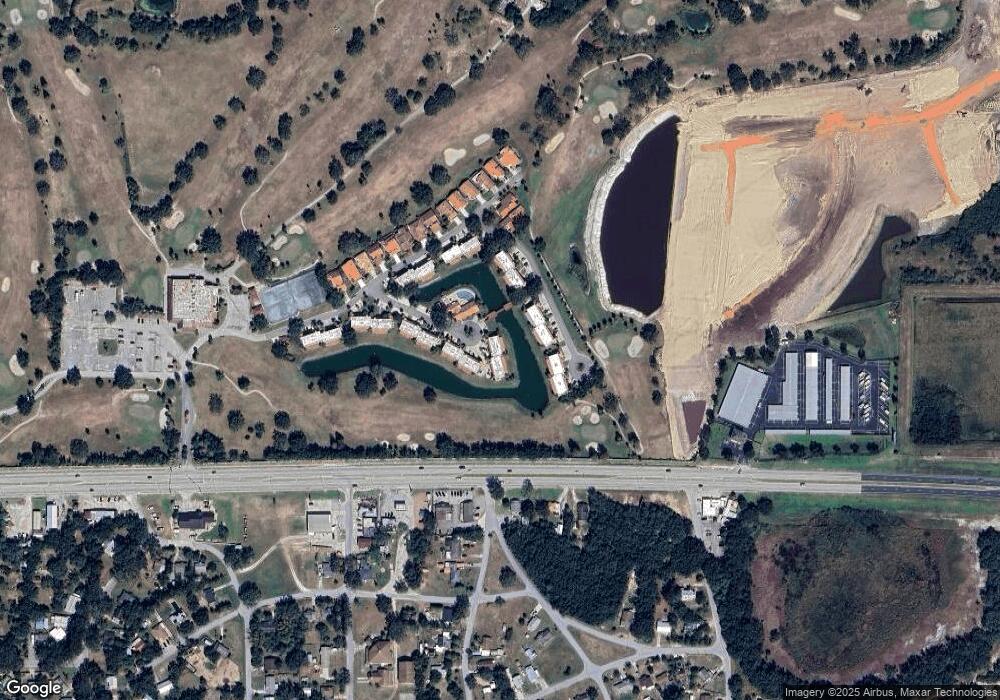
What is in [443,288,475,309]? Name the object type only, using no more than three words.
swimming pool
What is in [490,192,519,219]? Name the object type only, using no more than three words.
house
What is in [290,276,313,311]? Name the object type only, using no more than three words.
tennis court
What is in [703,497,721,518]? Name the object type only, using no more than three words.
building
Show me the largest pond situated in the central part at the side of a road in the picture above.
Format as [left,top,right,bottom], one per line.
[302,261,547,411]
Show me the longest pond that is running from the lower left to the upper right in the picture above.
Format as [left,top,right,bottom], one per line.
[827,216,912,311]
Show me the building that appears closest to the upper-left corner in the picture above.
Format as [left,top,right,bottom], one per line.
[167,277,219,327]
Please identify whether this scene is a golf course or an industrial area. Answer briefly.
golf course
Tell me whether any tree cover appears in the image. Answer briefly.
Yes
